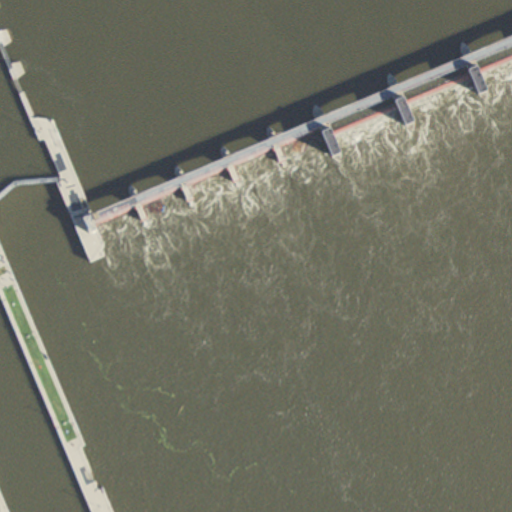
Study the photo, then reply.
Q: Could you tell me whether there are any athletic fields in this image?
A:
No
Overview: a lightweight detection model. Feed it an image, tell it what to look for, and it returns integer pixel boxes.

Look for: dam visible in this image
[96,42,512,228]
